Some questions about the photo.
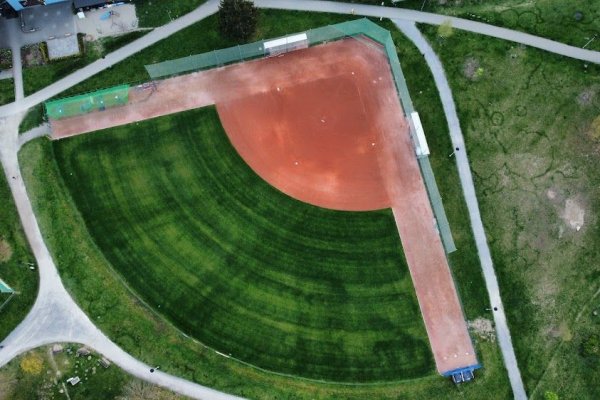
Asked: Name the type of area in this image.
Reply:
sports ground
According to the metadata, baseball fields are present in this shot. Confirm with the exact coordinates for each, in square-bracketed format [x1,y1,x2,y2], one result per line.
[46,34,481,385]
